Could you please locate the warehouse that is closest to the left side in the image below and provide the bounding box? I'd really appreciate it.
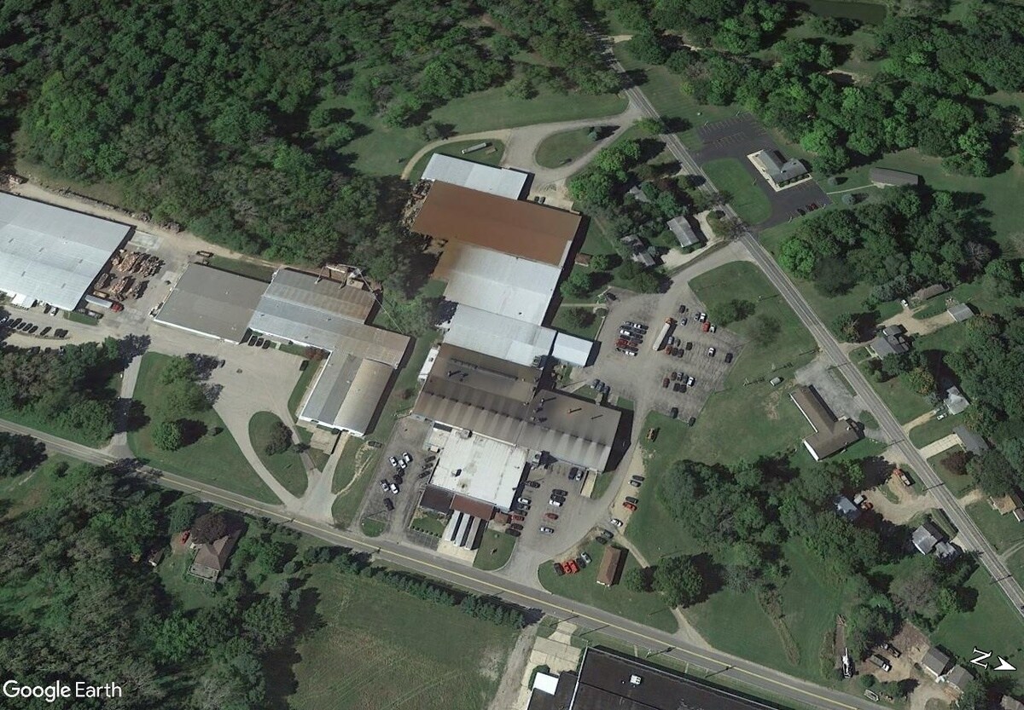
[0,193,131,311]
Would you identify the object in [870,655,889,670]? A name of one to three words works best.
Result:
vehicle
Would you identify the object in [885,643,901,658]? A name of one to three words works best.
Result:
vehicle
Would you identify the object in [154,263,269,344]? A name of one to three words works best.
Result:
building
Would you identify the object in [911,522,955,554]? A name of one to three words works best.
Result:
house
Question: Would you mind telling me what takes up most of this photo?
trees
